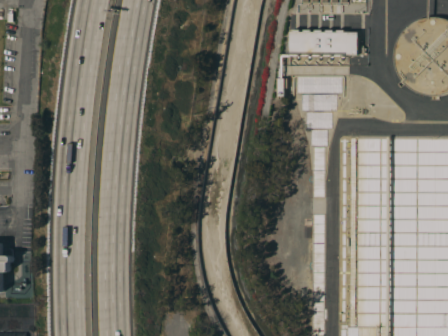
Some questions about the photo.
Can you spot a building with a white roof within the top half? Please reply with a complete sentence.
Yes, a building with a white roof appears within the top half.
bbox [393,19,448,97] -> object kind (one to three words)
storage tank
